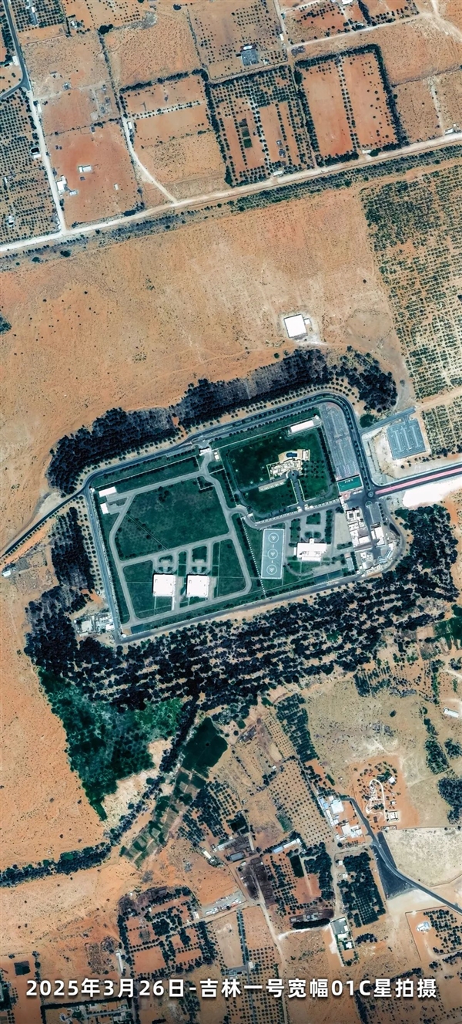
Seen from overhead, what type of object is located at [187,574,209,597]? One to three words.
building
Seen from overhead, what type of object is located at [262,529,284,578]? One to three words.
helipad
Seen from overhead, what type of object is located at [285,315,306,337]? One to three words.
building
